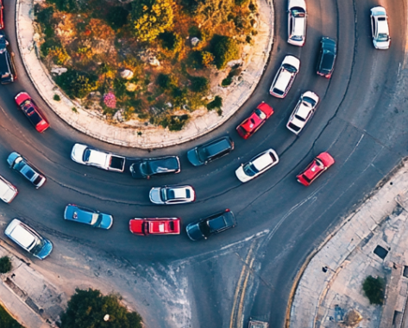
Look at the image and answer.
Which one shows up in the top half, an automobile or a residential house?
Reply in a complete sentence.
Looking in the top half, you will find an automobile.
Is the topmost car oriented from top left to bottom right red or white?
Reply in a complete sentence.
The topmost car oriented from top left to bottom right is red.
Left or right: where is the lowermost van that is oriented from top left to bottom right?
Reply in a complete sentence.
The lowermost van that is oriented from top left to bottom right sits on the left side.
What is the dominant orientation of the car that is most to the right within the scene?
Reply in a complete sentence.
From this overhead view, the car that is most to the right appears to run up and down.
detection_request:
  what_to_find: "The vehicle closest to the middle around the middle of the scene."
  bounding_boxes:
[185,134,236,167]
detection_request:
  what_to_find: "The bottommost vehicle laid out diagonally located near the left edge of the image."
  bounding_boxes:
[2,217,54,260]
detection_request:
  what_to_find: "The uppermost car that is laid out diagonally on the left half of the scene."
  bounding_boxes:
[12,89,53,136]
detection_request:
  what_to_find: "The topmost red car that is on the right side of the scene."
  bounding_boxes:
[232,101,276,139]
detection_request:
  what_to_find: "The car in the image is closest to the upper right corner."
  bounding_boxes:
[367,5,392,51]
